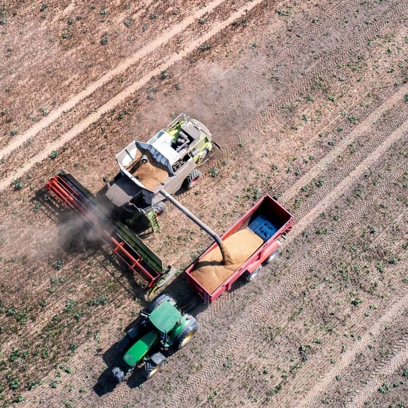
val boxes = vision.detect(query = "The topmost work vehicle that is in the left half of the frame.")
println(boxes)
[45,113,222,299]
